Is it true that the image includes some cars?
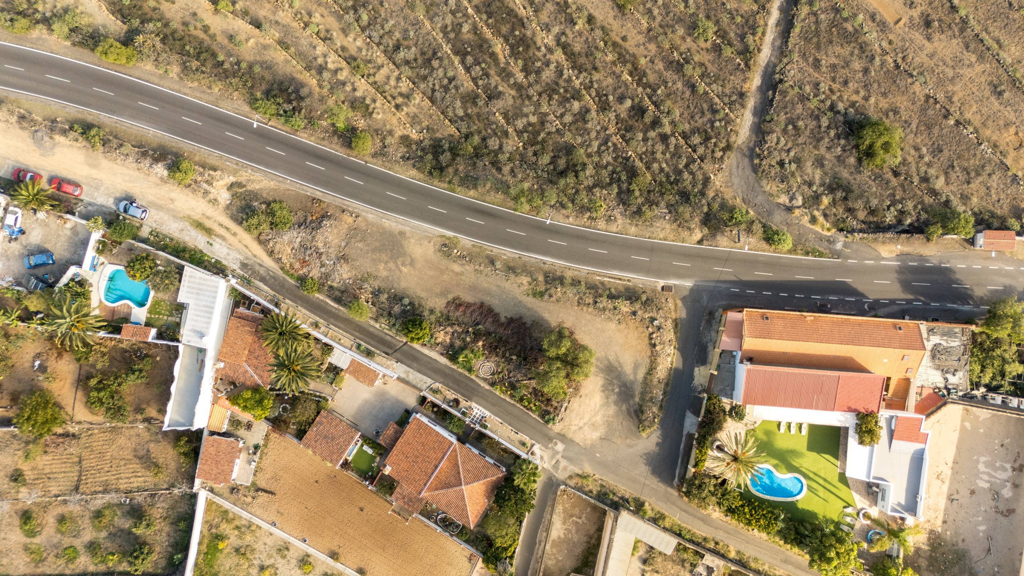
Yes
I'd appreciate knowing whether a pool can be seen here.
Yes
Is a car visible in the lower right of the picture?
No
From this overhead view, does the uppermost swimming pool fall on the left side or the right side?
left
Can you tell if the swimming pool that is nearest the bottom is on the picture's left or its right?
right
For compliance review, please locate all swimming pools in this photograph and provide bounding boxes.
[747,463,807,501]
[99,264,155,313]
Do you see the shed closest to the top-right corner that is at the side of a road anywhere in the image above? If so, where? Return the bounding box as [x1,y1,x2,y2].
[965,230,1016,251]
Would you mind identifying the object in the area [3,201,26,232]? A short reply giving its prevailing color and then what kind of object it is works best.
white car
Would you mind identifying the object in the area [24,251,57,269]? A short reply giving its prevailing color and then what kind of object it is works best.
blue car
